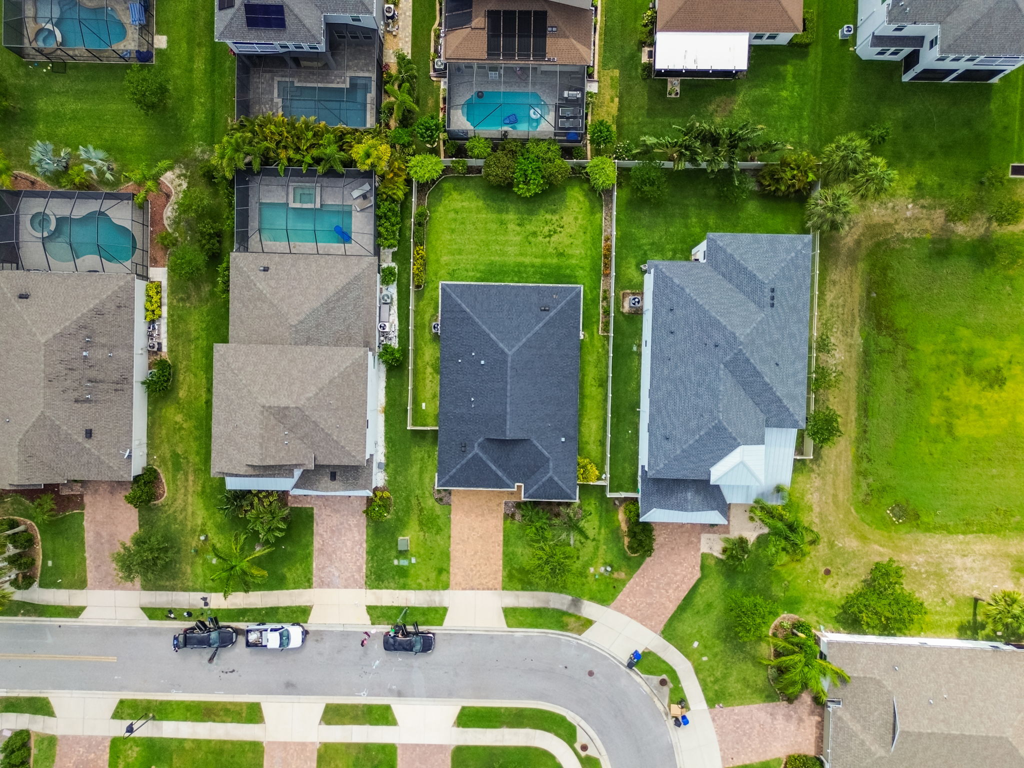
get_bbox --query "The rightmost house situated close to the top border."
[857,0,1024,81]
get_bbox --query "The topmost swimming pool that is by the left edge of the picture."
[30,0,127,51]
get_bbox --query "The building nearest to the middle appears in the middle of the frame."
[435,281,584,502]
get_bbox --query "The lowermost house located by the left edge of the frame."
[0,270,148,490]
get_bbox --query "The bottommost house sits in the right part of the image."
[818,633,1024,768]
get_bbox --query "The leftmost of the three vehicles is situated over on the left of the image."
[171,613,238,662]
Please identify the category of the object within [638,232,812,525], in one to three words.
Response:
house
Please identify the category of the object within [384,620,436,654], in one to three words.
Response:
car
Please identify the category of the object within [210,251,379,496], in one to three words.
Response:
house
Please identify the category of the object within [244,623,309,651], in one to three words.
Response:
truck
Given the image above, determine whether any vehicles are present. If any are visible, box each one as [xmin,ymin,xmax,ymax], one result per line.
[384,620,436,654]
[244,623,309,651]
[171,613,238,662]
